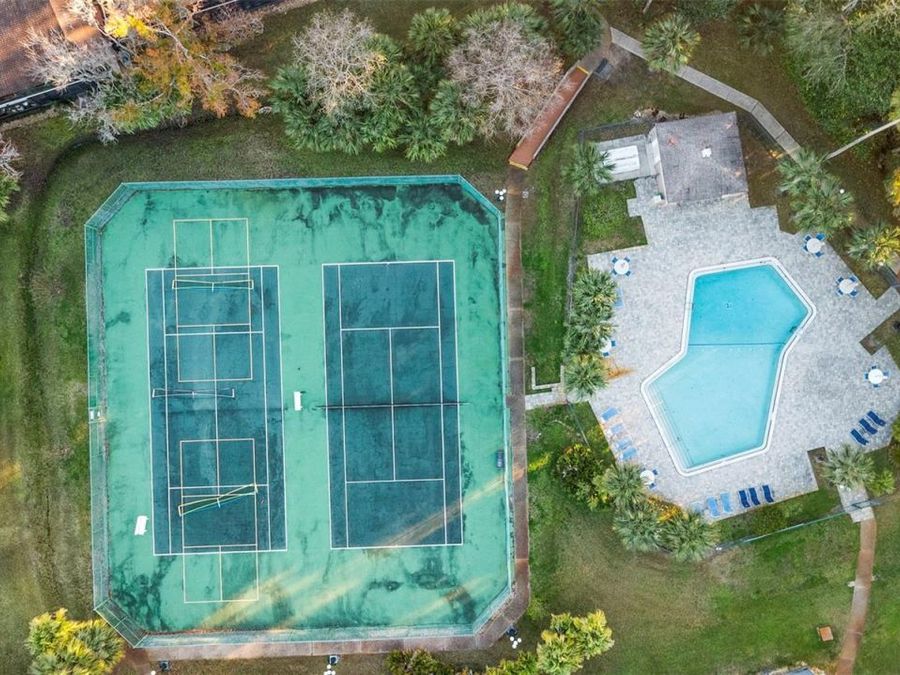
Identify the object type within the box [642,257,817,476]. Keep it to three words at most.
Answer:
swimming pool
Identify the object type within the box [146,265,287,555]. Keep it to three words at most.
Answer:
tennis court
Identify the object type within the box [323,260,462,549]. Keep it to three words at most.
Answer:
tennis court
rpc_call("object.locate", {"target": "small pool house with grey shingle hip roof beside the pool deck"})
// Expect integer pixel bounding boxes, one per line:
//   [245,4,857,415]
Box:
[646,112,749,209]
